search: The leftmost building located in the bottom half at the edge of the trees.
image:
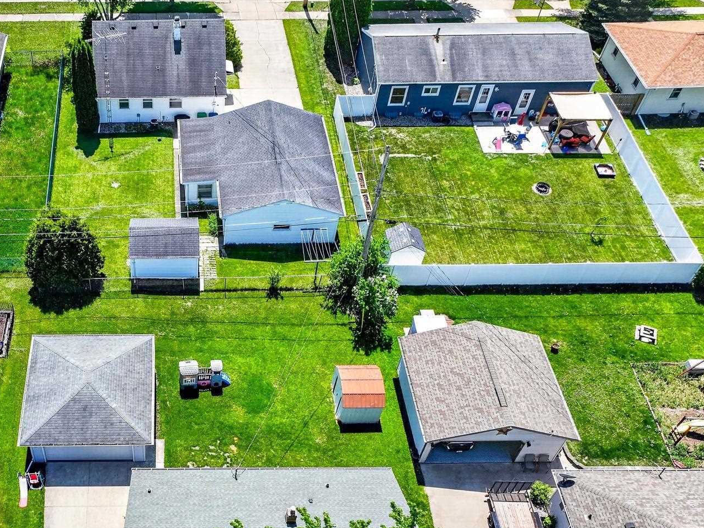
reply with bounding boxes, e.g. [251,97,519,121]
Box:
[17,334,156,477]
